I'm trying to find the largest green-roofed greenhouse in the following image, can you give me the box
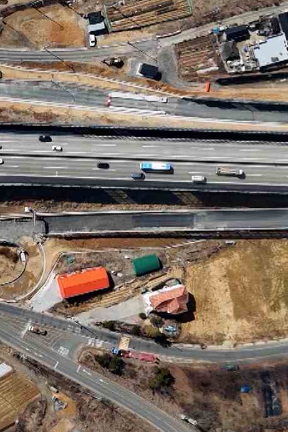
[129,253,160,275]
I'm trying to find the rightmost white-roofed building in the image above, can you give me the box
[246,35,288,68]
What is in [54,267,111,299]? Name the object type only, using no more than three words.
barn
